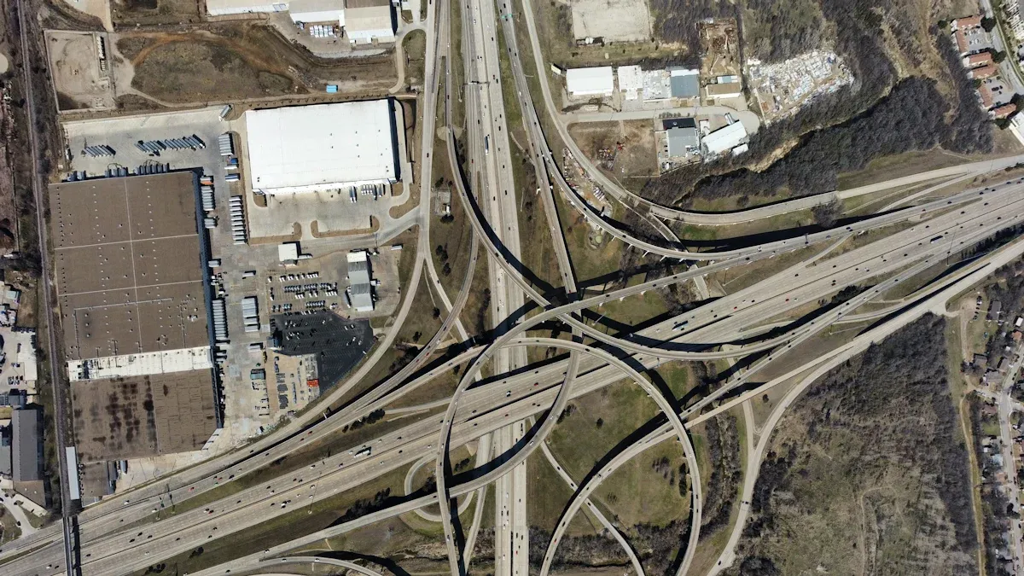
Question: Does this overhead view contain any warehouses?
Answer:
Yes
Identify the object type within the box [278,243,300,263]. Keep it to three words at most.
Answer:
building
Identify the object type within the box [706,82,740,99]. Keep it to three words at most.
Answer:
shed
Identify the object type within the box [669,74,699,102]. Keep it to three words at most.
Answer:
shed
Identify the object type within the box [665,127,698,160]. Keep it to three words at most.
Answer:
building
